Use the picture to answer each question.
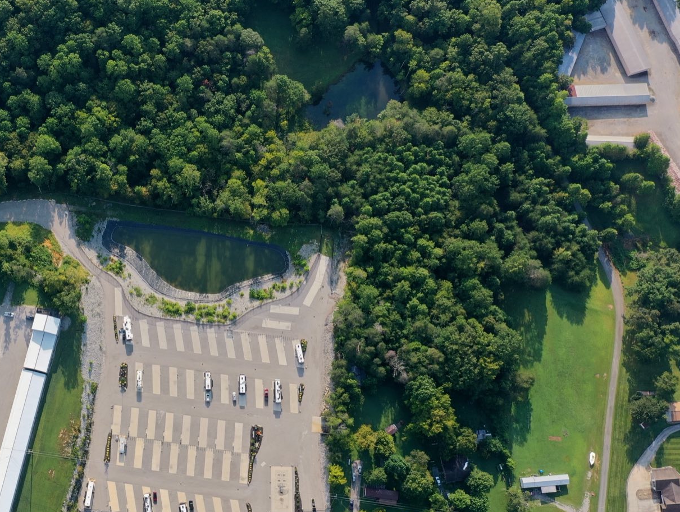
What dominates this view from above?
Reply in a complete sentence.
The largest share of the image is taken up by trees.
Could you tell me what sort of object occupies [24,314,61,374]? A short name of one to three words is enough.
building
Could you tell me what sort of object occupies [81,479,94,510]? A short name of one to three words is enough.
vehicle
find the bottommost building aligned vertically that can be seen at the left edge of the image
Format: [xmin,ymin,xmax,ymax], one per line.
[0,369,47,512]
